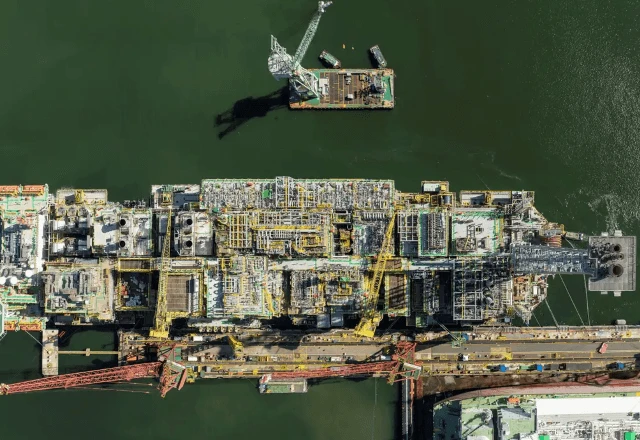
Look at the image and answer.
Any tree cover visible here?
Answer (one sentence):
No, there's no tree cover in this view.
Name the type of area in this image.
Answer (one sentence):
The picture captures a port.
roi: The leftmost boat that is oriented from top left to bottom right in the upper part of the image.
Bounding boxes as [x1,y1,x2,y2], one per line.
[320,50,342,68]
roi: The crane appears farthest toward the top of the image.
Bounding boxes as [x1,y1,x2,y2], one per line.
[268,1,332,101]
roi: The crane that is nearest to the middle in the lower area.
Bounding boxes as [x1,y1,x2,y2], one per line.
[356,208,398,341]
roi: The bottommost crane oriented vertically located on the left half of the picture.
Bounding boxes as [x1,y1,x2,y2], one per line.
[148,205,178,343]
